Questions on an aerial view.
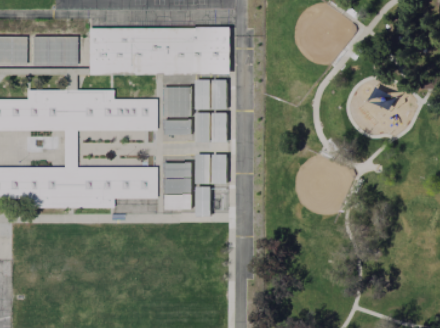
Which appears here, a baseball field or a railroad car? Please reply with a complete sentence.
There is a baseball field in the scene.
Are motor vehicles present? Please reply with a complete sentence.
No, the photo shows no motor vehicle.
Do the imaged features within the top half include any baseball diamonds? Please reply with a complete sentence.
Yes, there is a baseball diamond within the top half.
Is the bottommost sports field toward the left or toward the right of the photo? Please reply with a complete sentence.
You can find the bottommost sports field on the left side of the picture.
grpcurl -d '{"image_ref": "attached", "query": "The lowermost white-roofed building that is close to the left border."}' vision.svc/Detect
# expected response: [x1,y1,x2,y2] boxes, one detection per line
[0,90,158,209]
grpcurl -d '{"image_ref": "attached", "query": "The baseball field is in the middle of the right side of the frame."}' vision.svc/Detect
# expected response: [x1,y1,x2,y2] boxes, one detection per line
[295,154,358,216]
